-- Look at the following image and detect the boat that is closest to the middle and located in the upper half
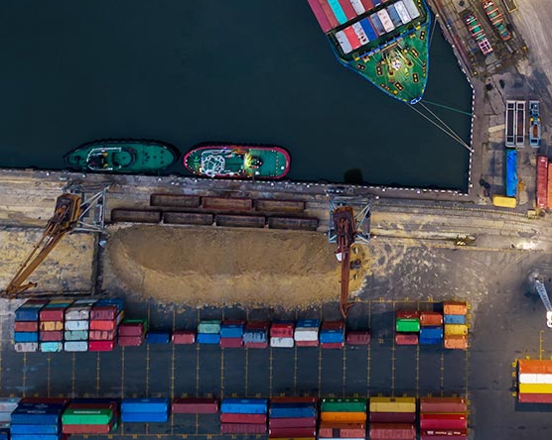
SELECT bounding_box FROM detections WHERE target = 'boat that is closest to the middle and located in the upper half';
[182,146,288,180]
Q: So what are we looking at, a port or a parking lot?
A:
port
